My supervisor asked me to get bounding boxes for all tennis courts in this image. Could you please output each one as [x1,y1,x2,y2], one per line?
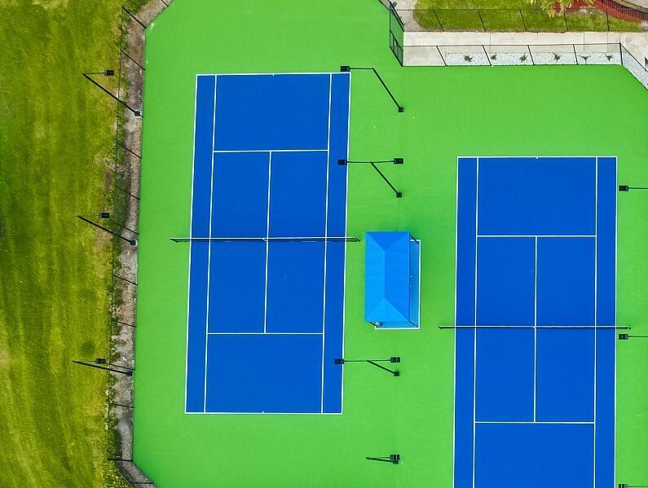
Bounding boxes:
[185,72,349,414]
[453,157,617,488]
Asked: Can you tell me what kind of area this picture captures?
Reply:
sports ground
